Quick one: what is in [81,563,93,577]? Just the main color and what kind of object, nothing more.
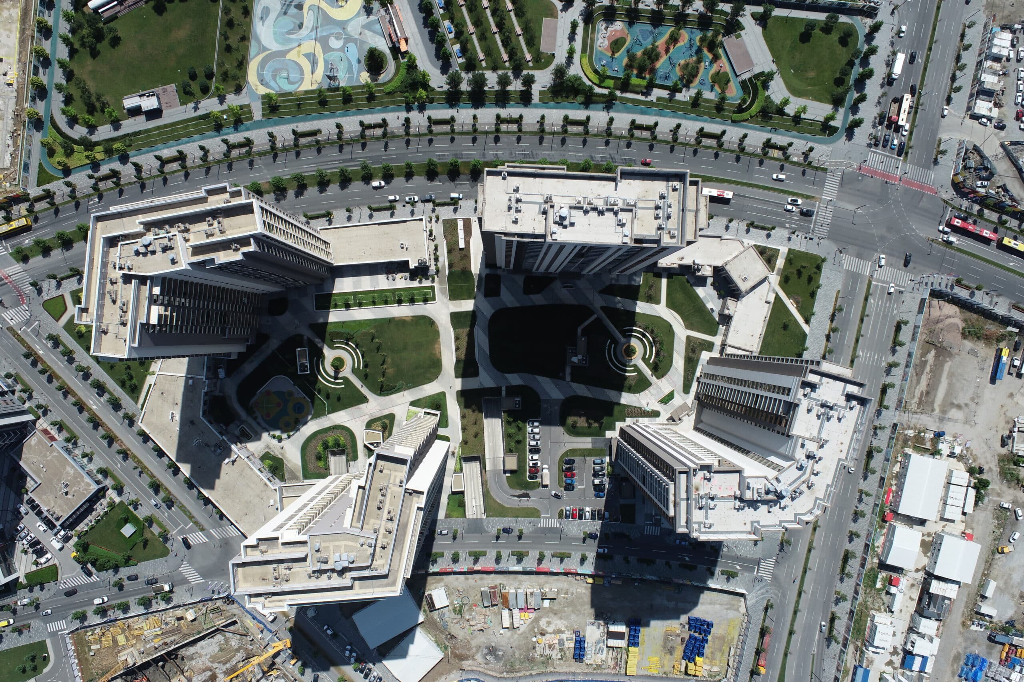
black vehicle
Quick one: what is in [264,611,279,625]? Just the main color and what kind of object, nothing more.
white vehicle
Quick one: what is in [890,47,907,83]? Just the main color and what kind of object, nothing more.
white vehicle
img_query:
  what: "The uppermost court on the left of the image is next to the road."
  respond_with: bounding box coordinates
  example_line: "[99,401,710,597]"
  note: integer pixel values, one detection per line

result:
[247,0,395,121]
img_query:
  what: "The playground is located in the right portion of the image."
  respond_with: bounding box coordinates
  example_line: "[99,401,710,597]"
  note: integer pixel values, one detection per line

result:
[594,19,742,102]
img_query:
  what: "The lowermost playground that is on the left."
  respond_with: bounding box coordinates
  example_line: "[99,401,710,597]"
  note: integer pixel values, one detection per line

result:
[247,376,313,432]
